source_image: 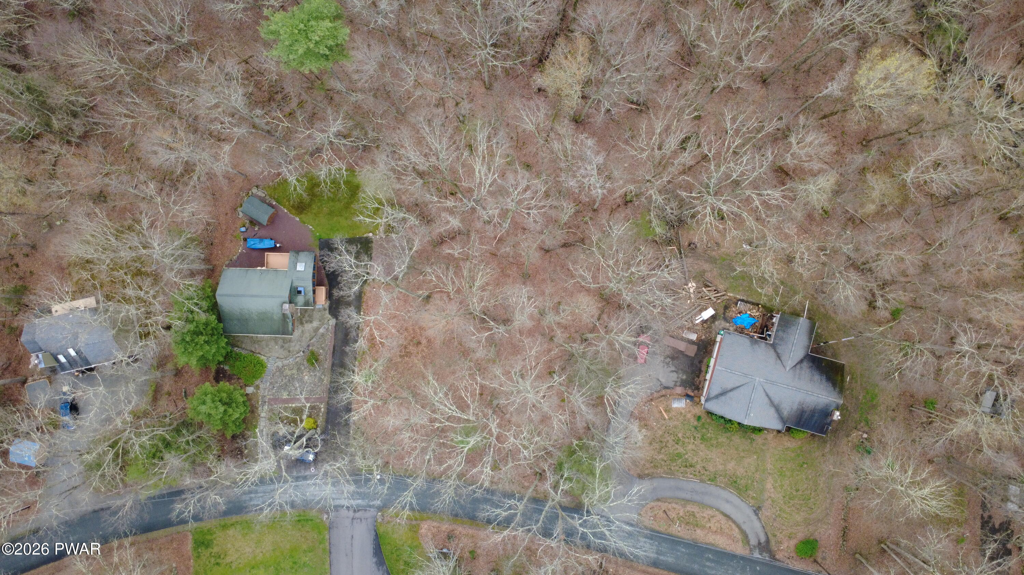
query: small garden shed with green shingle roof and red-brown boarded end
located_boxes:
[241,196,281,225]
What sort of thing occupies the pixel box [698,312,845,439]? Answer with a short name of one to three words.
house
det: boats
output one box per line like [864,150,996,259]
[246,237,282,250]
